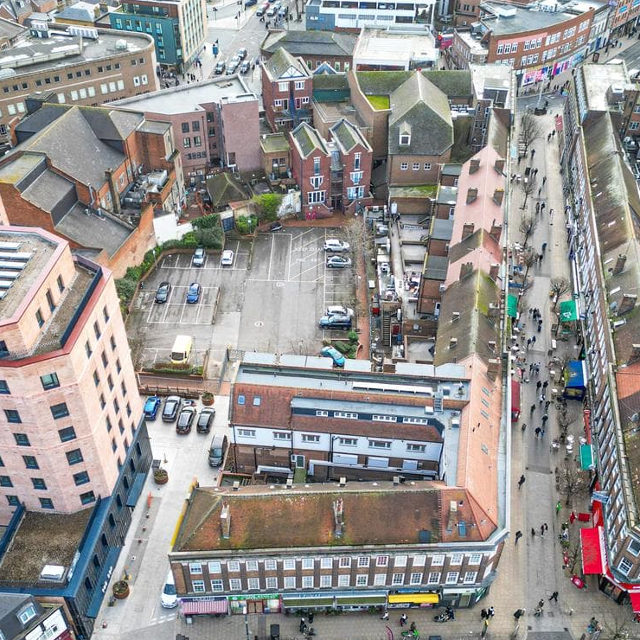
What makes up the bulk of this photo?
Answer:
buildings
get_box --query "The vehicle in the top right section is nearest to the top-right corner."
[627,65,640,78]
